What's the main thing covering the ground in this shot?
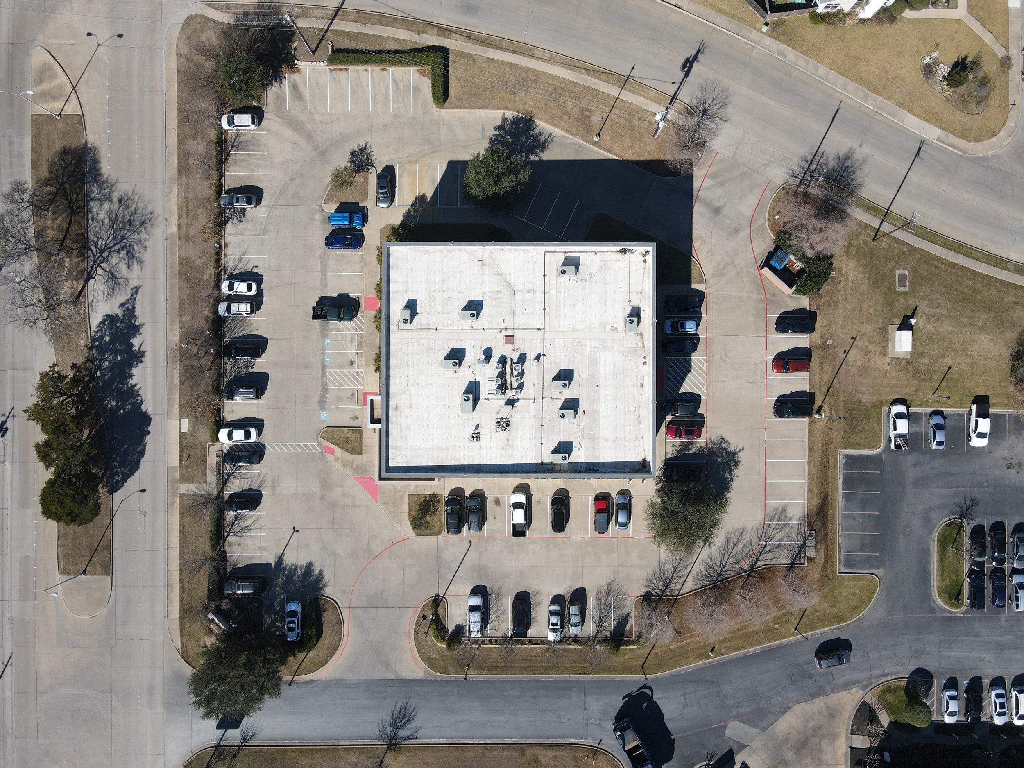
paved ground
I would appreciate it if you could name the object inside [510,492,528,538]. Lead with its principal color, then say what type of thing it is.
white vehicle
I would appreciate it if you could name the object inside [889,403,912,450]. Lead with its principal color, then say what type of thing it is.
white truck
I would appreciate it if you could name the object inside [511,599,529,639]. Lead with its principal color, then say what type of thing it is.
black car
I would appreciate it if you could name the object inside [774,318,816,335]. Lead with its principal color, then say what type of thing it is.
black car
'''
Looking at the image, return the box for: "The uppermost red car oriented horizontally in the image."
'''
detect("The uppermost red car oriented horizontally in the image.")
[771,357,810,375]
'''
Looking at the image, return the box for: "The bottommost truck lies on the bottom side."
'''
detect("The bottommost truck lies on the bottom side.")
[610,715,651,768]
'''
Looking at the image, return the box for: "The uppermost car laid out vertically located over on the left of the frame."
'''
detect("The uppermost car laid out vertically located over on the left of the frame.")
[375,172,392,208]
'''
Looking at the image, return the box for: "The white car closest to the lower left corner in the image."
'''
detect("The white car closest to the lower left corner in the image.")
[218,426,259,444]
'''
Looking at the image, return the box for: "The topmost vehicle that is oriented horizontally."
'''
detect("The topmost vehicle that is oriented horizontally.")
[221,112,259,131]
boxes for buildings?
[816,0,911,17]
[367,242,656,484]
